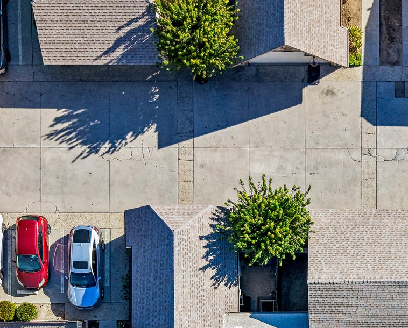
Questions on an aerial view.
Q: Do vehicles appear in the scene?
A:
Yes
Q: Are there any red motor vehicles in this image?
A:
Yes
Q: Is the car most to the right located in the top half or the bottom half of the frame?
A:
bottom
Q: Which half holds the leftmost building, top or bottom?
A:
top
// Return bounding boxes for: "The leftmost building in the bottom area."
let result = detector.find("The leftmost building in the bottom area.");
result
[124,203,241,328]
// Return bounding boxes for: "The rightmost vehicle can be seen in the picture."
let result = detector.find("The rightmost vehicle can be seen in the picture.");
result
[64,226,105,311]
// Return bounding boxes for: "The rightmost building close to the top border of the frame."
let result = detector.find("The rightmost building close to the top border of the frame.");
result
[234,0,349,68]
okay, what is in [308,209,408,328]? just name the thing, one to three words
building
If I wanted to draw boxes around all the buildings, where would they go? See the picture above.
[124,203,241,328]
[308,209,408,328]
[234,0,349,68]
[31,0,165,66]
